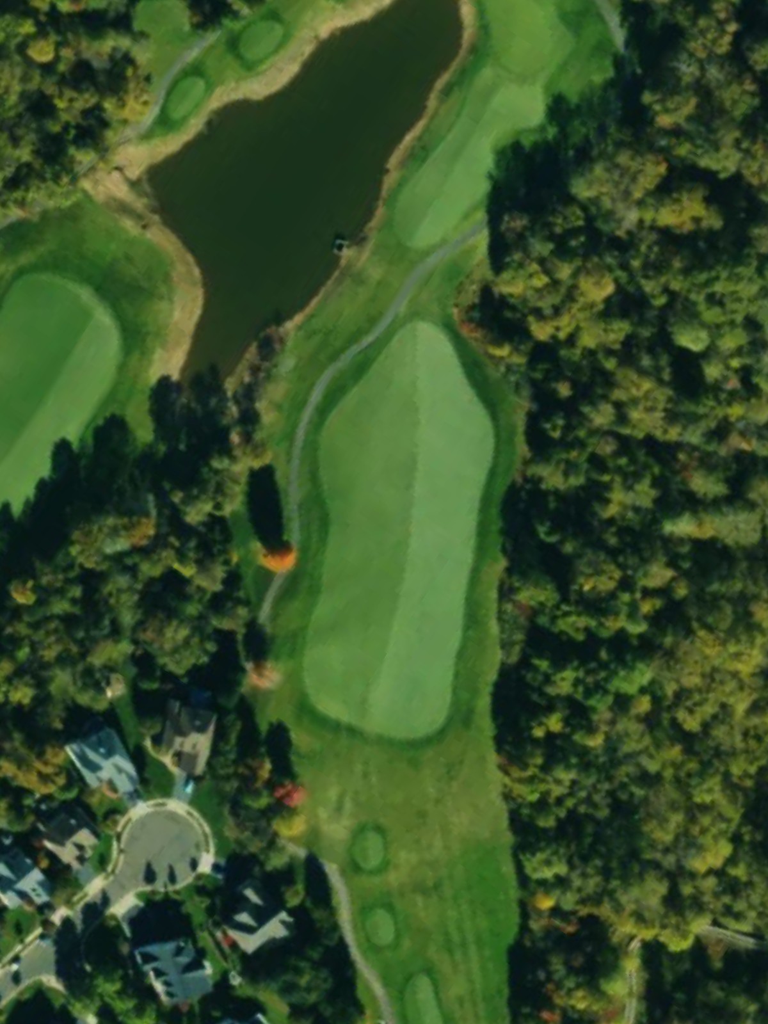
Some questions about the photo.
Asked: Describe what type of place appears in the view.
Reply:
golf course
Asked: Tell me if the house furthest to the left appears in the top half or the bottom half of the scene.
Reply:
bottom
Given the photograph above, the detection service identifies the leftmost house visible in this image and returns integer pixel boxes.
[0,838,58,911]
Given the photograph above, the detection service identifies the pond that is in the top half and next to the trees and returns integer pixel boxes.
[111,0,463,420]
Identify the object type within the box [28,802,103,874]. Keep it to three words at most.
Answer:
house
